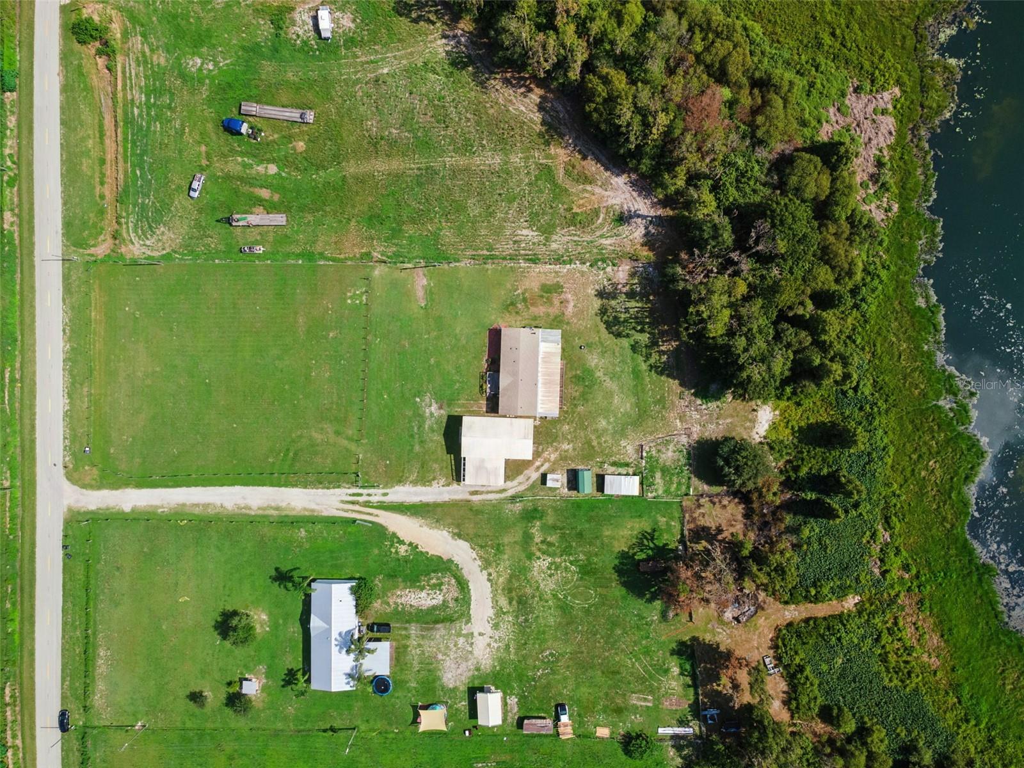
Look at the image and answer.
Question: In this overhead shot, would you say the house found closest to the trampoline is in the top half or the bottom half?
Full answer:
It is in the bottom half that the house found closest to the trampoline appears.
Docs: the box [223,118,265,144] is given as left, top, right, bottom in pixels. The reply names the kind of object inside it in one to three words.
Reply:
truck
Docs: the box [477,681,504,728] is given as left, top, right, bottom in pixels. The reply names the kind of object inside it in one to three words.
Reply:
shed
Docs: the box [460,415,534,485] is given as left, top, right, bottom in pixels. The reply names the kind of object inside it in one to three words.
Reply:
building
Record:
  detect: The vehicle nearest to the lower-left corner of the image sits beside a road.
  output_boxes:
[57,709,70,732]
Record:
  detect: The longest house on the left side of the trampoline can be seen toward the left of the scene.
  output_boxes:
[308,580,358,693]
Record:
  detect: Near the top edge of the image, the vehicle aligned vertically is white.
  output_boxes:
[319,8,333,45]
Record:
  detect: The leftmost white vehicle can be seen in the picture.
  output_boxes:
[189,172,205,199]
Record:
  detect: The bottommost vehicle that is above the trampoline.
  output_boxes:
[367,623,392,635]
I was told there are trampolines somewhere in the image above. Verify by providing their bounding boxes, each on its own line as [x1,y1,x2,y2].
[373,676,392,697]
